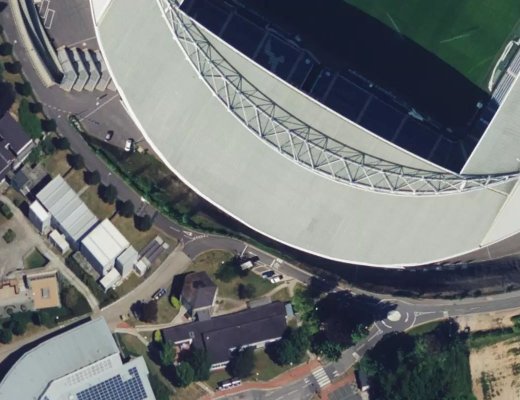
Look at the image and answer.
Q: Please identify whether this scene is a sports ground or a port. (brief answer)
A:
sports ground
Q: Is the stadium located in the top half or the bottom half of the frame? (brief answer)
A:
top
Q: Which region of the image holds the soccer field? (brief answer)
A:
top right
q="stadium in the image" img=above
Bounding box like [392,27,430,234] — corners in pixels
[89,0,520,273]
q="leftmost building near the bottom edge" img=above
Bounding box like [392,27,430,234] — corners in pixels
[0,316,155,400]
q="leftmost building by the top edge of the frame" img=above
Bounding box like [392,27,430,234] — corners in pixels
[10,0,64,89]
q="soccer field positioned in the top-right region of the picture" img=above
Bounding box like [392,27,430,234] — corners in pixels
[266,0,520,121]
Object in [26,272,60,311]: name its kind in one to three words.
building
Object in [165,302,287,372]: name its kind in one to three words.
building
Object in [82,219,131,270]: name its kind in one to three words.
shed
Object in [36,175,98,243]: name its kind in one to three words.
shed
